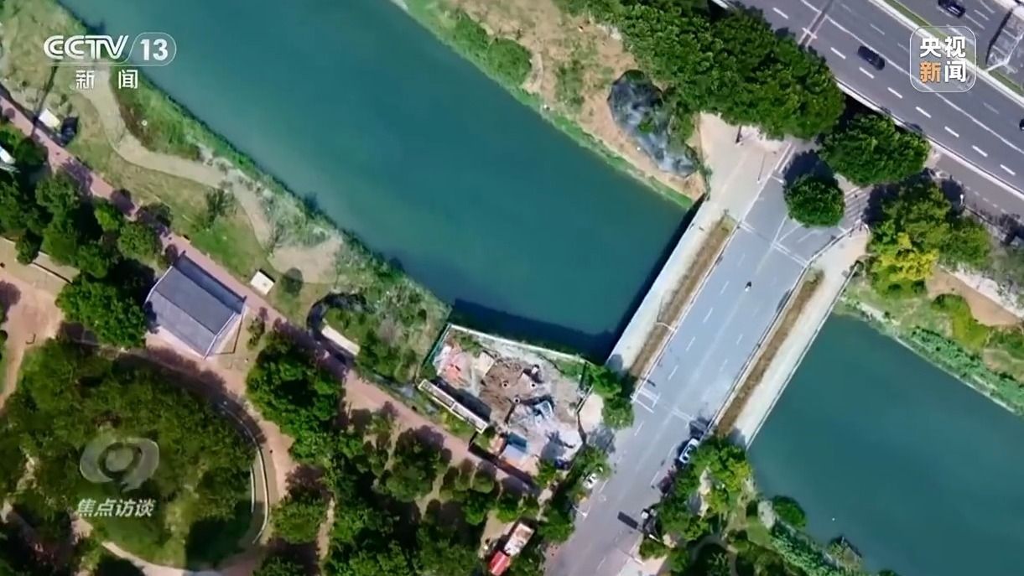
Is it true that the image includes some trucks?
Yes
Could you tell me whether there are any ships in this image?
No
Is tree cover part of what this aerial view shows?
Yes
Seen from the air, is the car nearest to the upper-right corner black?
Yes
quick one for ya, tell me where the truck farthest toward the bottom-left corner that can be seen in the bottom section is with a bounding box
[493,522,527,571]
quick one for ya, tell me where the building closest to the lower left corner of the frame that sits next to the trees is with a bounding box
[144,250,253,359]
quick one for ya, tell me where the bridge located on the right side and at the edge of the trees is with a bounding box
[609,199,860,447]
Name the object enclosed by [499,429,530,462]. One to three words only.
shed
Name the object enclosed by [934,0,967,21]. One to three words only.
car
